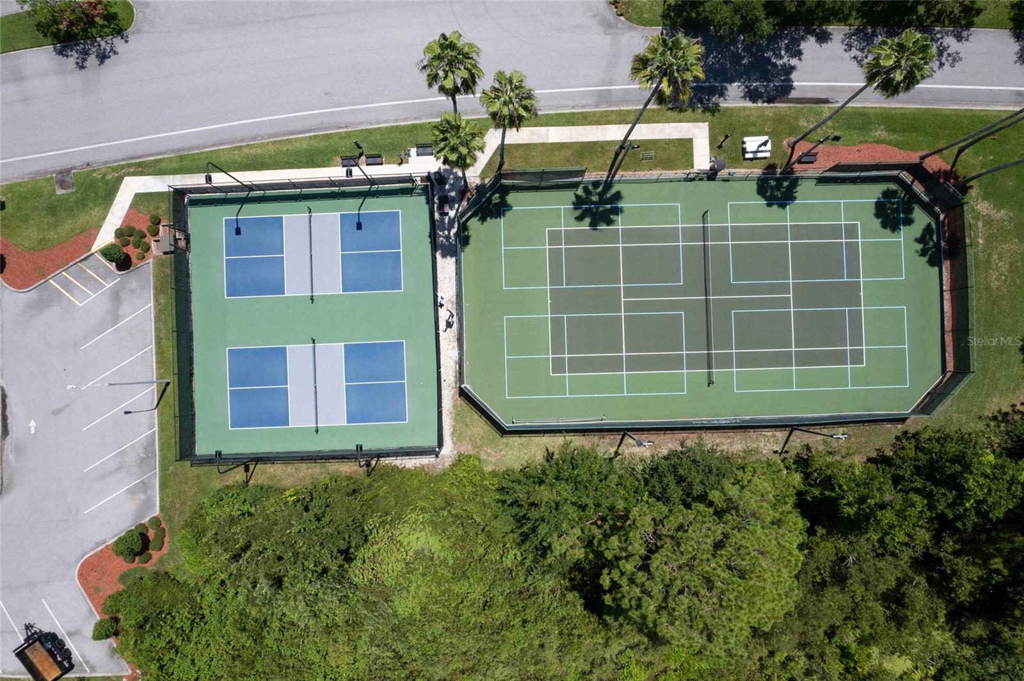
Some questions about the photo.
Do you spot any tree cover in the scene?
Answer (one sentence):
Yes, tree cover shows up in the scene.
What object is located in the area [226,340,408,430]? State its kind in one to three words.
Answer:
sports court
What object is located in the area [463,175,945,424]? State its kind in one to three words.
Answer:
tennis court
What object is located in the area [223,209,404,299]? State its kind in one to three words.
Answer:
sports court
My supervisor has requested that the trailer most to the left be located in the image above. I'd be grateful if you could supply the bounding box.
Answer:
[12,619,76,681]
